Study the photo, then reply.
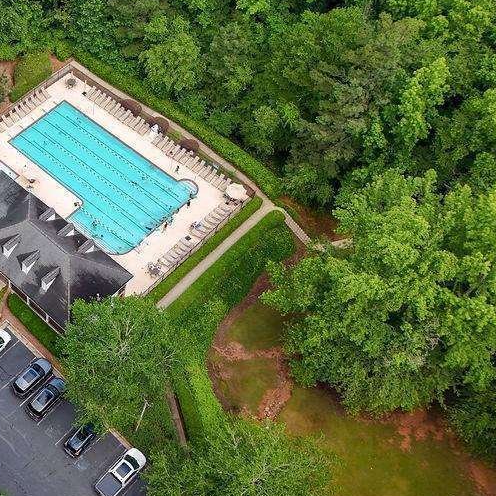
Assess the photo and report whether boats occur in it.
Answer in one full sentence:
No, no boat is visible in the view.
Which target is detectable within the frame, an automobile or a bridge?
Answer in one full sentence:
The image shows an automobile.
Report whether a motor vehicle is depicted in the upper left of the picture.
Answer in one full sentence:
No, no motor vehicle is visible in the upper left of the picture.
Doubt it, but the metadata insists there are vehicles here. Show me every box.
[0,327,16,353]
[92,445,150,496]
[23,379,69,422]
[61,420,105,460]
[10,357,54,400]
